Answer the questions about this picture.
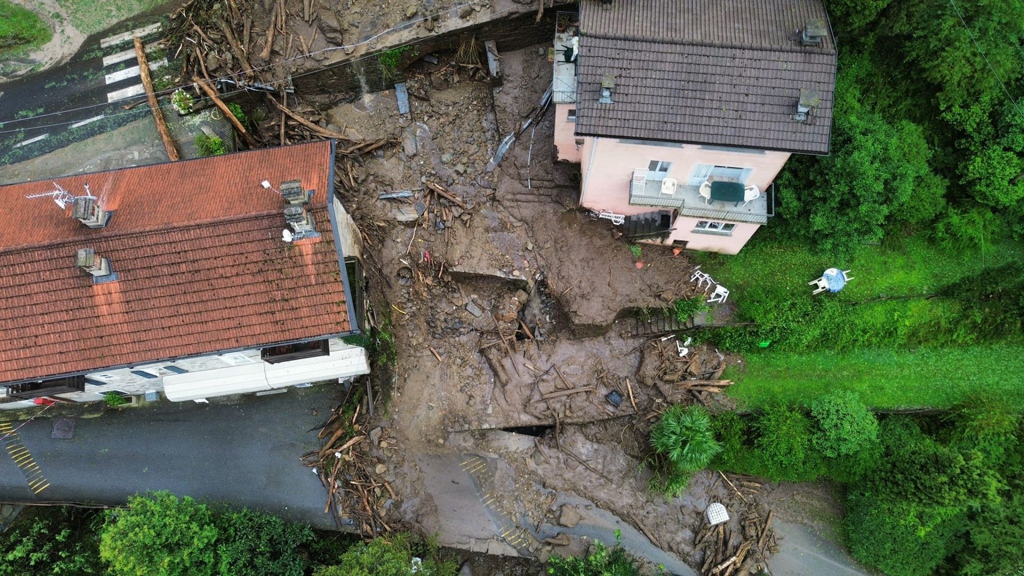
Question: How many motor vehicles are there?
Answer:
0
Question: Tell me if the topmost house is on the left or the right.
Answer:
right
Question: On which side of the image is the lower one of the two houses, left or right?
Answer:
left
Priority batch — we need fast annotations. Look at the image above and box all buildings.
[0,136,380,413]
[549,0,846,249]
